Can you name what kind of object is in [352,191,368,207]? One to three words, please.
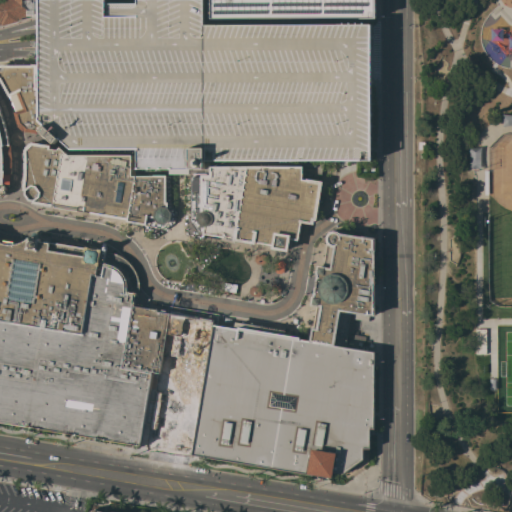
fountain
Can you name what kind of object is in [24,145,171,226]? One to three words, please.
building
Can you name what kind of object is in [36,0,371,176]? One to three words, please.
building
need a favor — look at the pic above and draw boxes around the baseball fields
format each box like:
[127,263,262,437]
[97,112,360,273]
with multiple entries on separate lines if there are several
[488,132,512,306]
